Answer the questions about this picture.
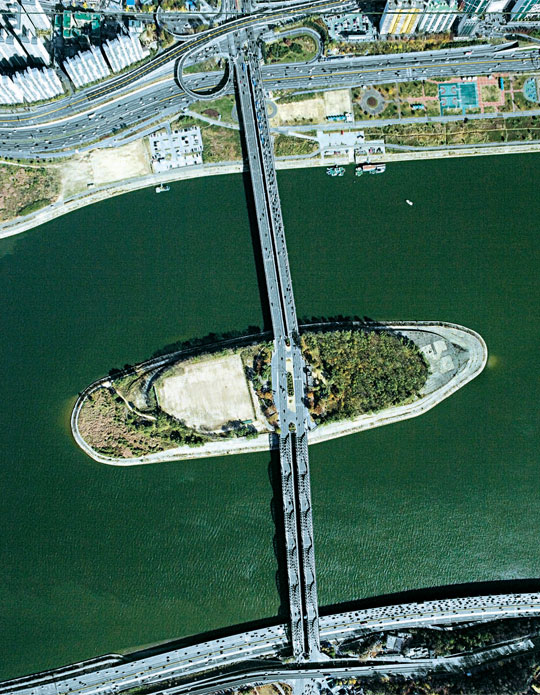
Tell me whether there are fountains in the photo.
No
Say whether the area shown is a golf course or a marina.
marina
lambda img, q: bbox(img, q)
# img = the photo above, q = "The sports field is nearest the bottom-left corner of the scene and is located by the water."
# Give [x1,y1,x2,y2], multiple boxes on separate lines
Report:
[155,353,256,432]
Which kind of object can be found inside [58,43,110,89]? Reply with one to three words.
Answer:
building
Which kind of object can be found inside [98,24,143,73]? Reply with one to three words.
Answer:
building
